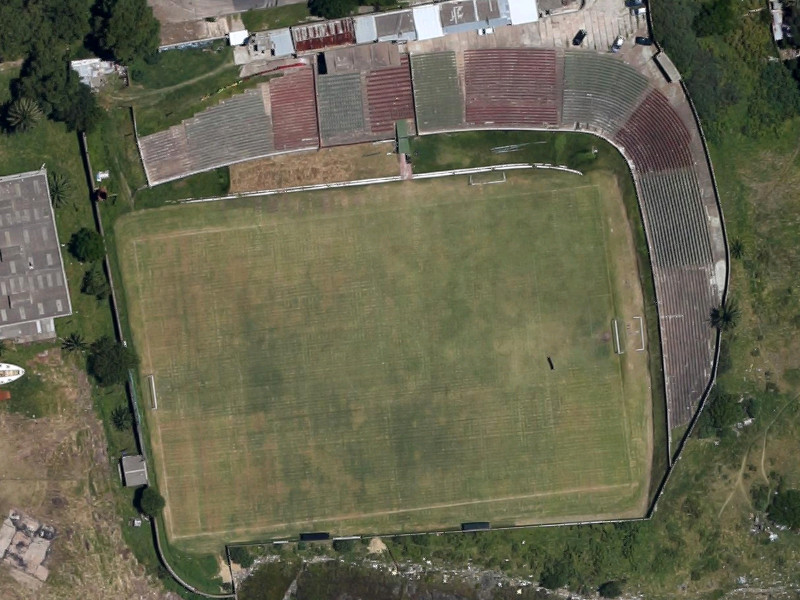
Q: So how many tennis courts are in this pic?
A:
0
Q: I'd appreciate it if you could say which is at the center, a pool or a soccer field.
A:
soccer field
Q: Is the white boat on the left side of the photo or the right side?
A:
left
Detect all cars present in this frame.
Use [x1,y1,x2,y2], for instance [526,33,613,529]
[635,36,653,45]
[477,27,495,35]
[631,5,649,15]
[571,28,588,47]
[610,34,626,52]
[623,0,643,7]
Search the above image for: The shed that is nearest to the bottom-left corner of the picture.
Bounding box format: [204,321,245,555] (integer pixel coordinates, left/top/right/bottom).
[122,455,148,487]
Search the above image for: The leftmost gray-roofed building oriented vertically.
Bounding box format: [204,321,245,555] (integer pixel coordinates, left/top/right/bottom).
[0,165,75,330]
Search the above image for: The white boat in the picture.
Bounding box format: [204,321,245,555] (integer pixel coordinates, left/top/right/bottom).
[0,363,26,384]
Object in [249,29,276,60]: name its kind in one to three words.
house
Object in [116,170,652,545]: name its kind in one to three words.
soccer field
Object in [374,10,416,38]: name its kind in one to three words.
building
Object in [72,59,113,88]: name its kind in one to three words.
shed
